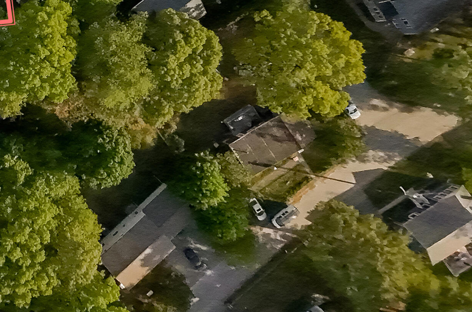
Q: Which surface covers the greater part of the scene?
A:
trees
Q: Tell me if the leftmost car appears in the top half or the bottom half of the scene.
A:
bottom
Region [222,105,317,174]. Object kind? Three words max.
house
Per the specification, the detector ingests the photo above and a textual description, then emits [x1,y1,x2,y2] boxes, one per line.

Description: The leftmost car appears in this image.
[182,245,202,268]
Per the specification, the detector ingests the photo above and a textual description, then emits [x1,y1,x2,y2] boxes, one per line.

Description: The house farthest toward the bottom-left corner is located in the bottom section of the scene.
[99,196,189,289]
